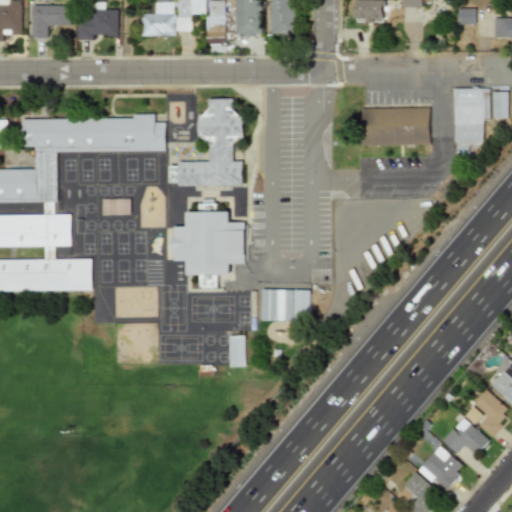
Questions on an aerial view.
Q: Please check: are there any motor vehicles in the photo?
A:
Yes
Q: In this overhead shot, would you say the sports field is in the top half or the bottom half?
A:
bottom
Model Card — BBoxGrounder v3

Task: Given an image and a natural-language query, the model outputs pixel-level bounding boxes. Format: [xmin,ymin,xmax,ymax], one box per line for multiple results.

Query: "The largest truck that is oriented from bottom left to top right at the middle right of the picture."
[409,281,434,310]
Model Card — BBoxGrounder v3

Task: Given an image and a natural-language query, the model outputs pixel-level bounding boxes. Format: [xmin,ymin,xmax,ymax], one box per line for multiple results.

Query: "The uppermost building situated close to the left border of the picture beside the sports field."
[0,114,166,202]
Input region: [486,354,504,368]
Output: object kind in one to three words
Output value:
swimming pool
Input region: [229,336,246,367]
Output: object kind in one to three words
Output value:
building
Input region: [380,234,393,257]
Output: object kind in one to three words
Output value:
vehicle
